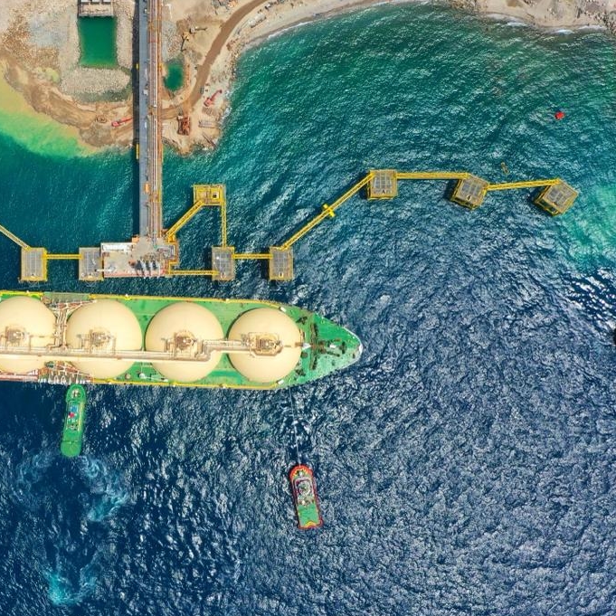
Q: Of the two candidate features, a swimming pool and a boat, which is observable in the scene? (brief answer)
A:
boat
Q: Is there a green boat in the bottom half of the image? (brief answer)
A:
Yes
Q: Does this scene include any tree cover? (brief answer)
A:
No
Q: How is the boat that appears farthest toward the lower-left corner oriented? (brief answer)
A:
up and down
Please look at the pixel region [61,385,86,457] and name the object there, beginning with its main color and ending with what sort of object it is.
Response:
green boat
